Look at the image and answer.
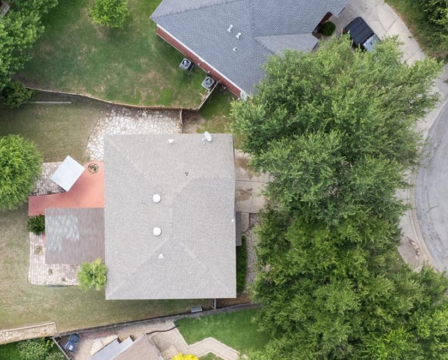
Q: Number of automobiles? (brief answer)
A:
one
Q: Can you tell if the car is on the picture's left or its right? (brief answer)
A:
right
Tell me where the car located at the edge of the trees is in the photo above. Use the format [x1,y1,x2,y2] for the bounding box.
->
[335,2,384,56]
